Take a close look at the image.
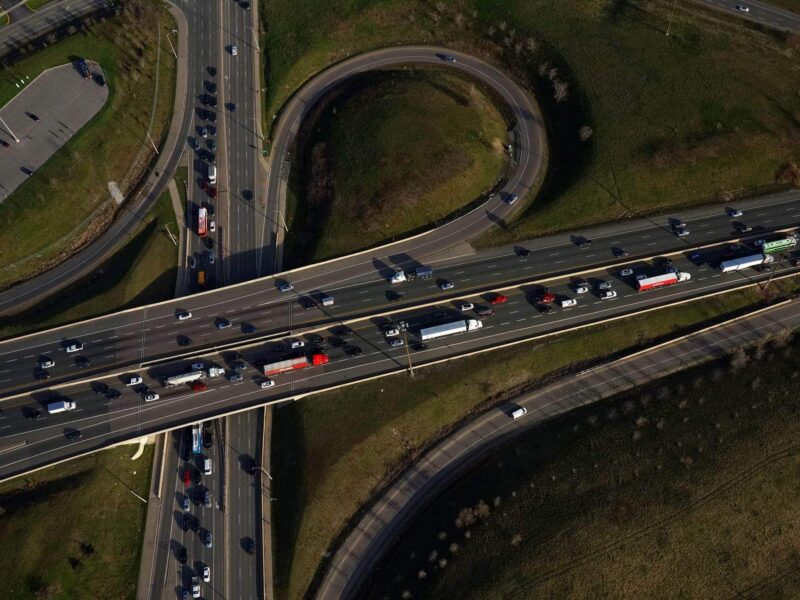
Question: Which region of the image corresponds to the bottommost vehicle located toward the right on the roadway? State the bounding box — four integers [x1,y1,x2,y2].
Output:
[509,406,527,419]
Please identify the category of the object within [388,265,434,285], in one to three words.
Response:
vehicle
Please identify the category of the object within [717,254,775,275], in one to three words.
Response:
truck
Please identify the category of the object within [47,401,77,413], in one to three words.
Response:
vehicle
